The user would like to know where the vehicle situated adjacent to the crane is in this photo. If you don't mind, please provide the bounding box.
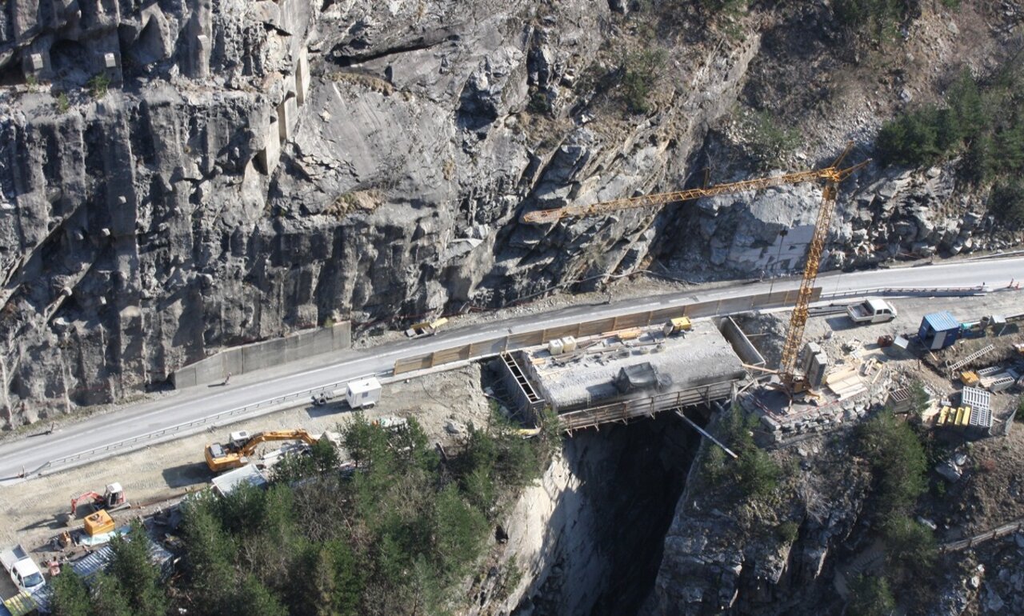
[847,297,900,324]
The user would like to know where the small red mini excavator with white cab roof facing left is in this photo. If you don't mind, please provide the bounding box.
[64,488,126,526]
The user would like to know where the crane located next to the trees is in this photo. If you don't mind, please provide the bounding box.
[523,143,873,413]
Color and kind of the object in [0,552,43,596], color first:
white truck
